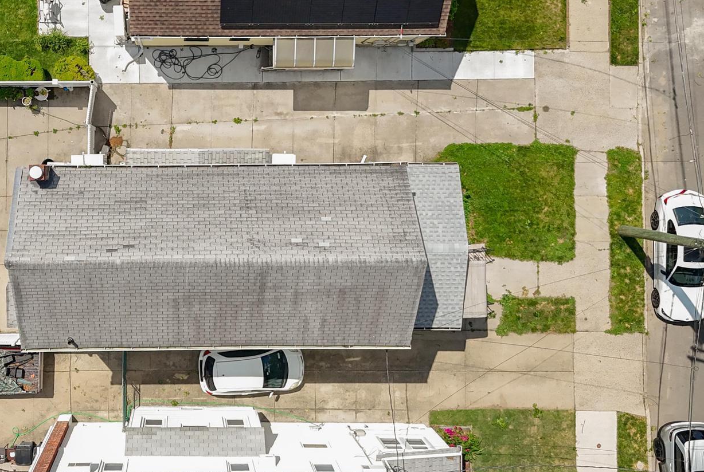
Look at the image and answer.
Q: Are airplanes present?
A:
No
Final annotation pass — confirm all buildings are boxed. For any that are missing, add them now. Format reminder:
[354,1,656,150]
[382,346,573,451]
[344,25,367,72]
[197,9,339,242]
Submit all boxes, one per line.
[126,0,453,79]
[0,407,467,472]
[2,149,503,359]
